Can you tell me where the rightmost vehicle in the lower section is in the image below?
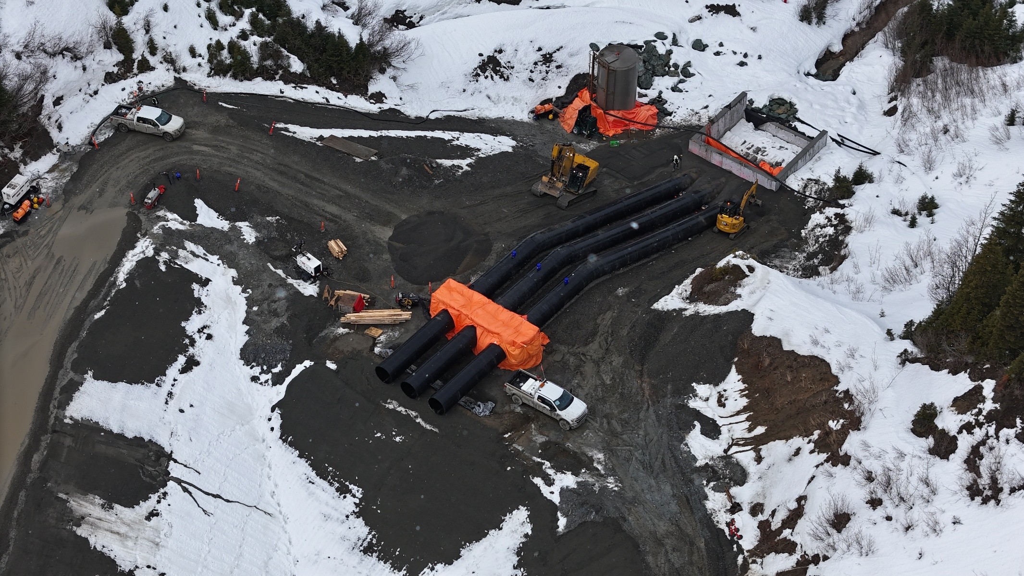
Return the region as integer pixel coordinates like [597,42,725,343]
[503,358,595,431]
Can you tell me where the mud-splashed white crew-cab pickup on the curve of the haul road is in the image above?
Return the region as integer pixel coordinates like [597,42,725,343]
[106,86,190,141]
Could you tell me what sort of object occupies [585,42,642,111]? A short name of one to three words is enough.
storage tank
